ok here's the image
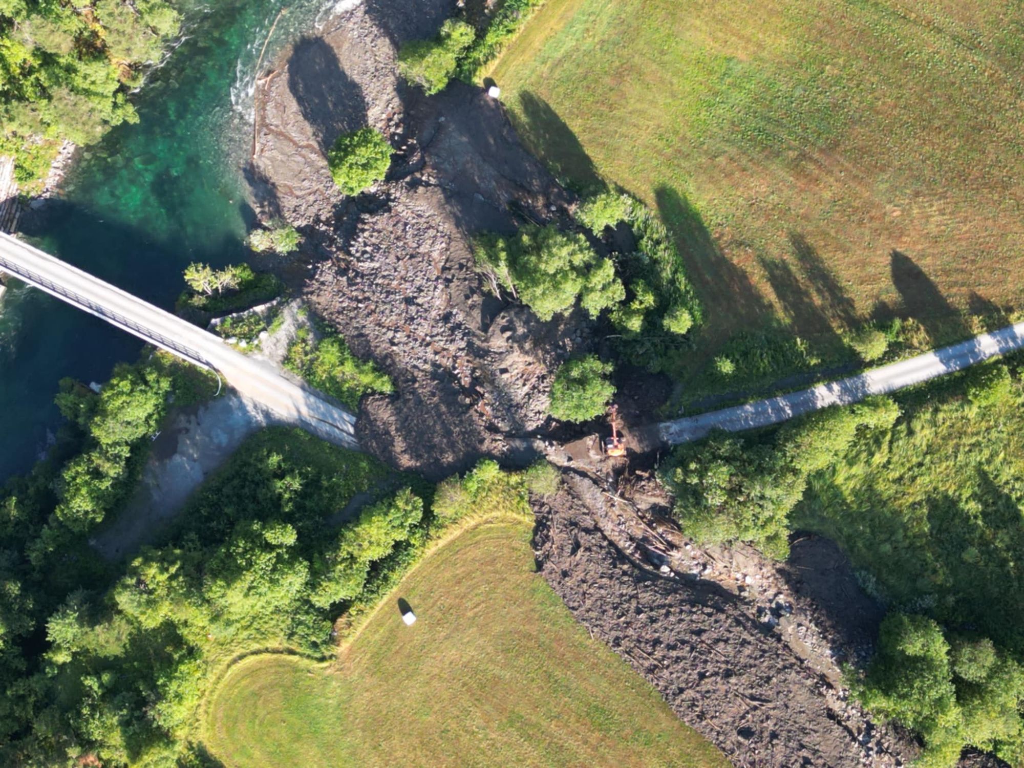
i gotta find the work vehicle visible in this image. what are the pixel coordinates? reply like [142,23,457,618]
[606,407,625,457]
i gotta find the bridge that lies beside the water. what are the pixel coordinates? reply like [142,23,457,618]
[0,228,234,371]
